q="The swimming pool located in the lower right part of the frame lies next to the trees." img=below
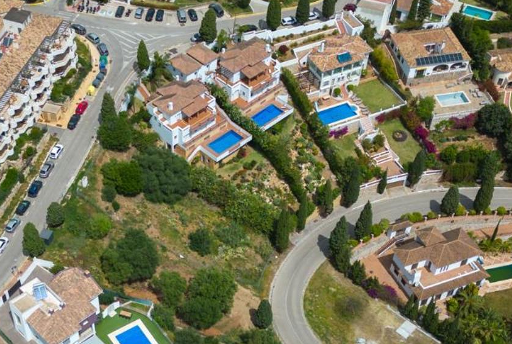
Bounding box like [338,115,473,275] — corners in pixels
[481,262,512,287]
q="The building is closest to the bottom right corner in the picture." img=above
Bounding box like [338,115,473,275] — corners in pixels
[392,225,491,304]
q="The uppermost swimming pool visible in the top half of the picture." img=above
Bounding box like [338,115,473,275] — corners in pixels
[460,4,497,21]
